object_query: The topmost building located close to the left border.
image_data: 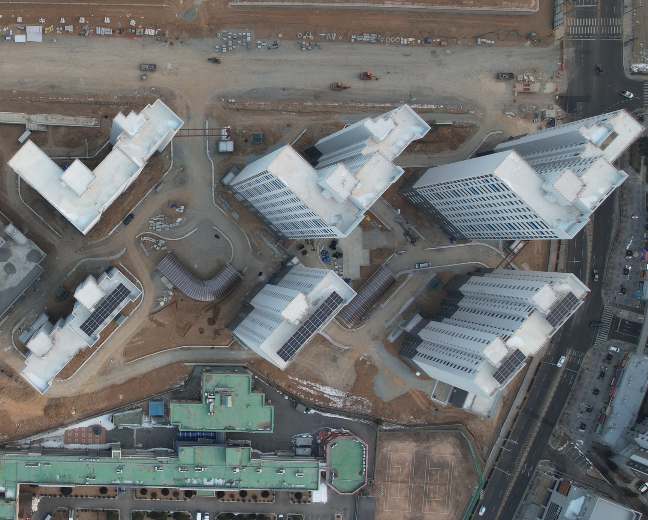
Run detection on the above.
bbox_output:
[7,99,183,239]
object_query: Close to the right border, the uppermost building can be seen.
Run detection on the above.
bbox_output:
[396,108,647,243]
